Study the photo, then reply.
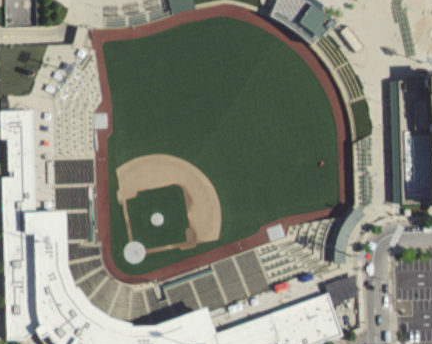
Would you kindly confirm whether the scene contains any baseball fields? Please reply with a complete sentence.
Yes, a baseball field is visible in the scene.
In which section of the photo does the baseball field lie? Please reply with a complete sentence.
The baseball field sits in the center section of the image.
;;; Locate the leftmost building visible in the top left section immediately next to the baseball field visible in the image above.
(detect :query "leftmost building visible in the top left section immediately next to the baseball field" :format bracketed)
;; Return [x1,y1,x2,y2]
[68,28,88,50]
